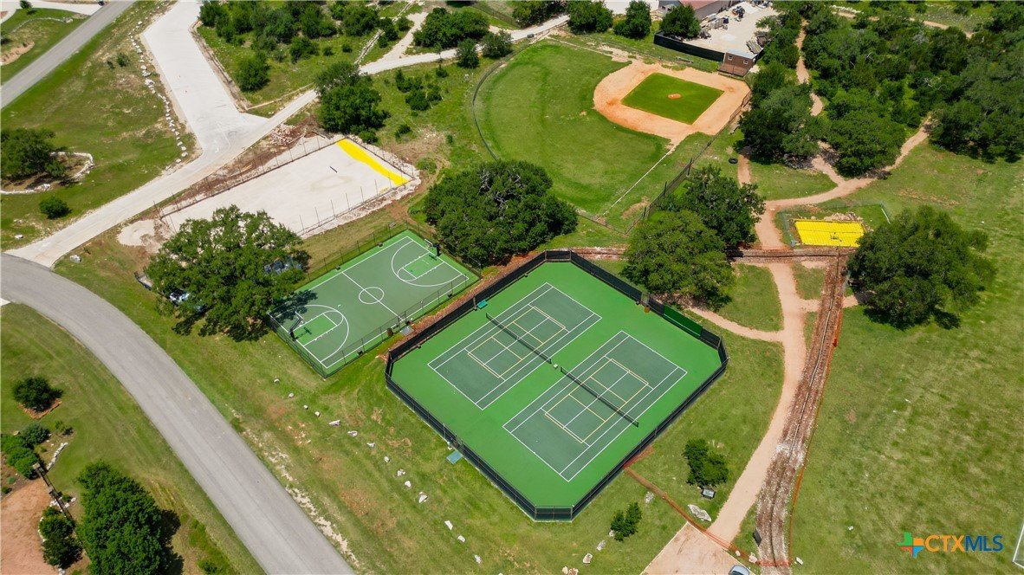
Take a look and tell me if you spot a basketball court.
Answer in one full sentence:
Yes, the photo shows a basketball court.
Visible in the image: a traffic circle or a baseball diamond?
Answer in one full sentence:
This aerial view contains a baseball diamond.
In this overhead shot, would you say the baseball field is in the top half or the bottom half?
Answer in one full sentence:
You can find the baseball field in the top half.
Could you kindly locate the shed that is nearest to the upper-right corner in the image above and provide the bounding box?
[725,43,759,70]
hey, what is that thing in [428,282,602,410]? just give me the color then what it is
green tennis court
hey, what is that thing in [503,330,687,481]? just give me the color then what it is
green tennis court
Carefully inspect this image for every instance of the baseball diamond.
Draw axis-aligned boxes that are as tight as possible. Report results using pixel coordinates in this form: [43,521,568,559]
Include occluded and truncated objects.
[478,38,749,215]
